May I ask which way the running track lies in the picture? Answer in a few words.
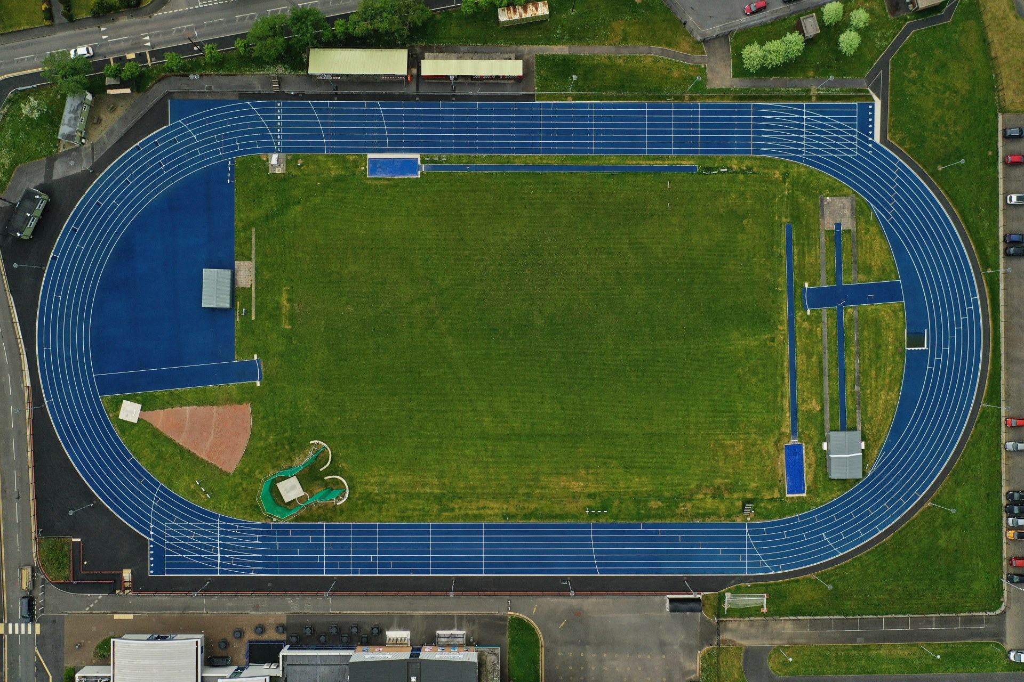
from side to side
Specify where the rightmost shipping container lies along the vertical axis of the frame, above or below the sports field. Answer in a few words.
above it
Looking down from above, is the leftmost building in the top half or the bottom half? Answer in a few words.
top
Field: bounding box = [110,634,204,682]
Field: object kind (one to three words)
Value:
building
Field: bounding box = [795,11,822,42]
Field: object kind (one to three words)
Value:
shed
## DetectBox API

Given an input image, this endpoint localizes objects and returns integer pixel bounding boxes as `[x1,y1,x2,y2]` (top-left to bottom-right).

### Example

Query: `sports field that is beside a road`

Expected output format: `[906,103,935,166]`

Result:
[100,154,906,523]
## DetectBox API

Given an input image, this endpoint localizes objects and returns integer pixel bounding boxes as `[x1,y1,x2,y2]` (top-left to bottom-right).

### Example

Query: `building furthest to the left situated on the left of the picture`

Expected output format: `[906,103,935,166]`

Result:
[5,187,51,239]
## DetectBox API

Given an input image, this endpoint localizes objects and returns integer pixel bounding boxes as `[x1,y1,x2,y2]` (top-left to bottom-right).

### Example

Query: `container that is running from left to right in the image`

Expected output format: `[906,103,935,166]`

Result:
[498,0,549,27]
